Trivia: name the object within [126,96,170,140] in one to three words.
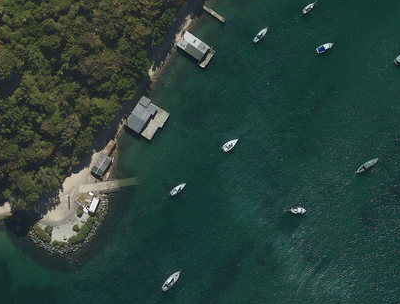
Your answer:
building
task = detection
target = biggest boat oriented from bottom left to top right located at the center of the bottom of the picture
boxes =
[162,269,182,292]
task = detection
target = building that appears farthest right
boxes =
[177,31,216,68]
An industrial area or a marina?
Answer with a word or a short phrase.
marina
